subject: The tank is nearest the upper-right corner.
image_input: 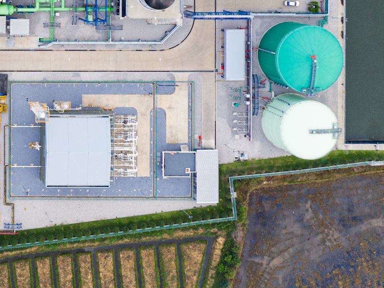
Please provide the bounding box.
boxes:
[252,19,346,96]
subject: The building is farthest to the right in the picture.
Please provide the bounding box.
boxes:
[218,29,245,81]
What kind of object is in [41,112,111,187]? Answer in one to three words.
building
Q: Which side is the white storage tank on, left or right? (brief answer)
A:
right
